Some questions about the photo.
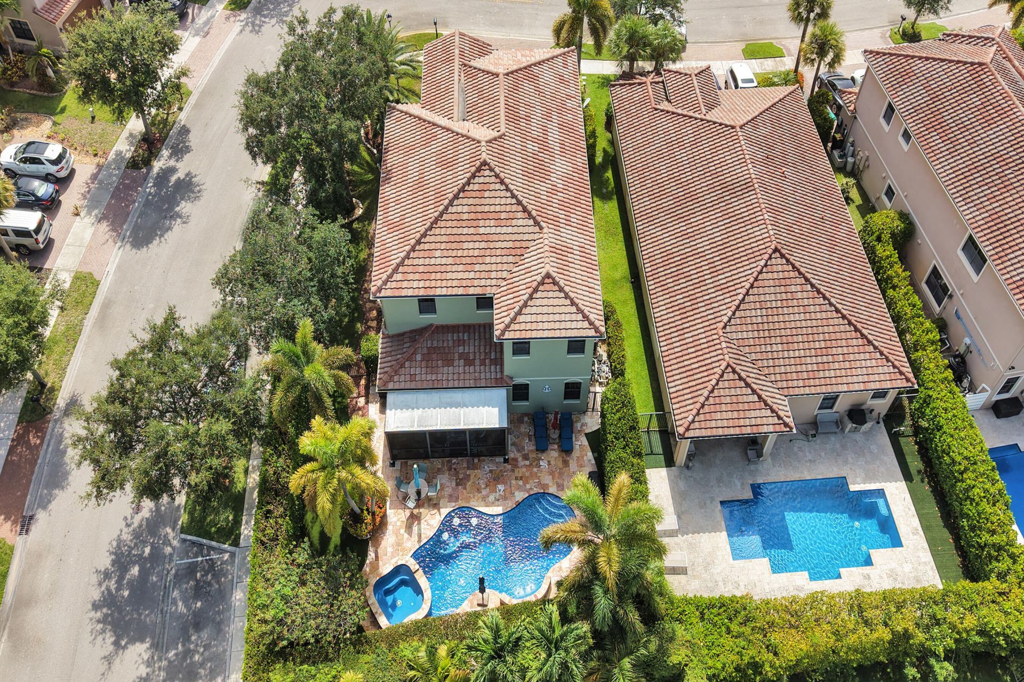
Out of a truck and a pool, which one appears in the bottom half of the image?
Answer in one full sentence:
What appears in the bottom half of the image is a pool.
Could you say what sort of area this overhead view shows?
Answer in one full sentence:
It's a residential area.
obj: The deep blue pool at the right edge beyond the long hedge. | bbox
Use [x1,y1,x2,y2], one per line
[983,437,1024,537]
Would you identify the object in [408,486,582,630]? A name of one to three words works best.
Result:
swimming pool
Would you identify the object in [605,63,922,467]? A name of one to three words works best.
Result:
house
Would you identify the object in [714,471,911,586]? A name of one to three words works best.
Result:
swimming pool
